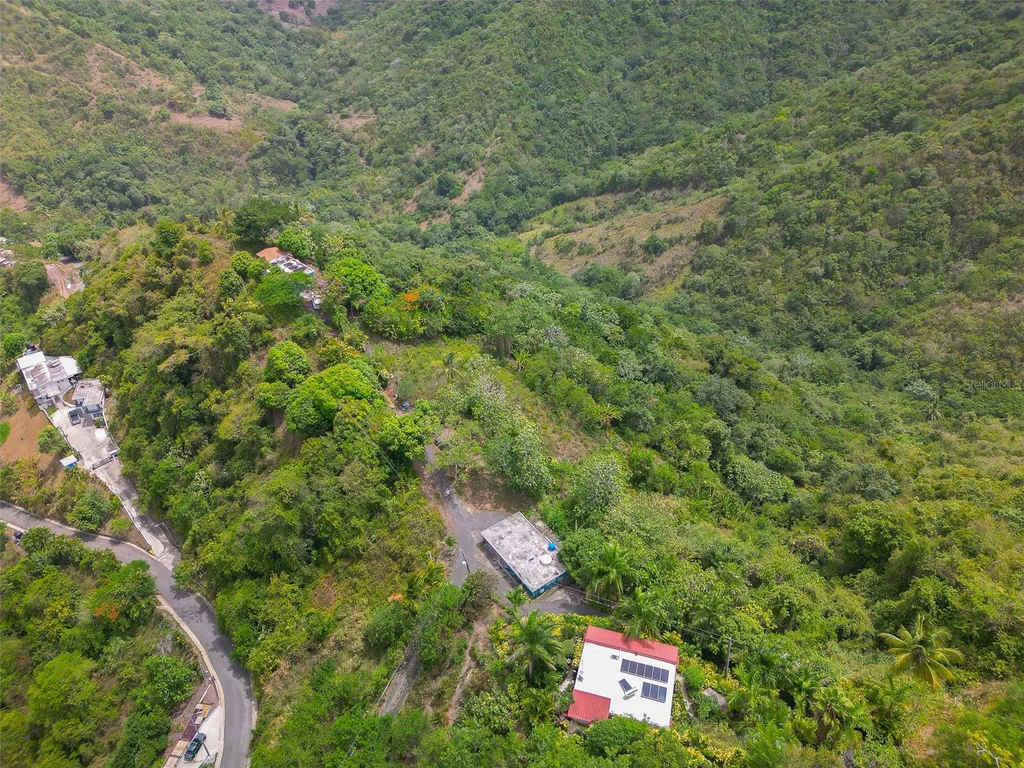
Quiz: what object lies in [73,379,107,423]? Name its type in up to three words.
house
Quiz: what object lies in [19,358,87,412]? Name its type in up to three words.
house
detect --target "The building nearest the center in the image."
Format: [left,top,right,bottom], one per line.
[479,512,566,595]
